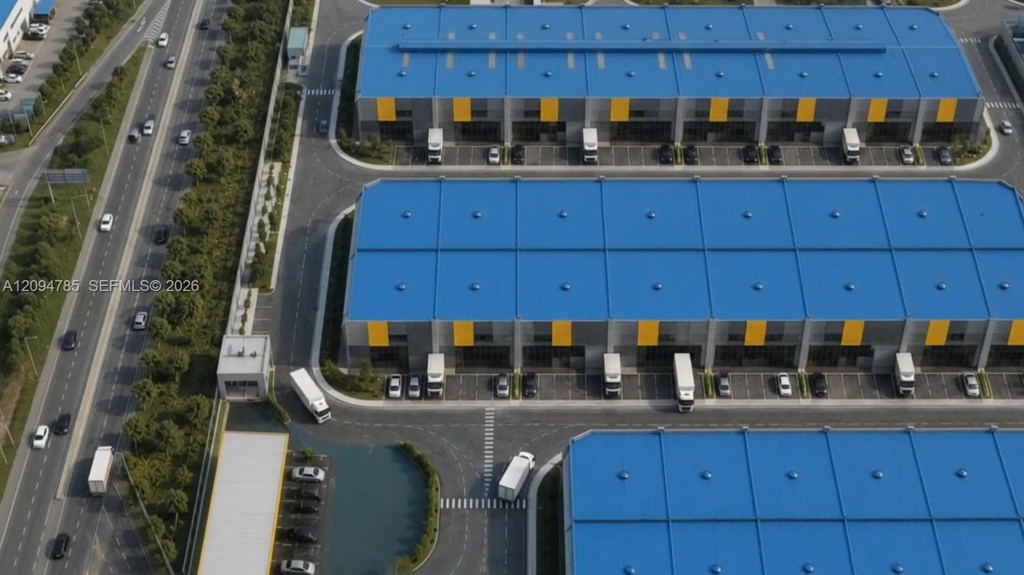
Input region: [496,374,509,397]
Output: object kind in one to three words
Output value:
vehicle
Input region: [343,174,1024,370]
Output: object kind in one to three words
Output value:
warehouse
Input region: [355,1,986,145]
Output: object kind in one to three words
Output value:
warehouse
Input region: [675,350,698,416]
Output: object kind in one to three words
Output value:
truck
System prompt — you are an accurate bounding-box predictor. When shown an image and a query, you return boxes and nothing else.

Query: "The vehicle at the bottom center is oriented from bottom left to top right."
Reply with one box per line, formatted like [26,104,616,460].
[496,449,539,506]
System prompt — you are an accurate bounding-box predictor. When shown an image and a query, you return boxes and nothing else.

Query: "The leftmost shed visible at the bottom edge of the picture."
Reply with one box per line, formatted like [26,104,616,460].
[199,432,290,575]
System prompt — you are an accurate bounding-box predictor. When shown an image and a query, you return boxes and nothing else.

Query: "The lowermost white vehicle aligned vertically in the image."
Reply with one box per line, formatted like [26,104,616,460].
[84,448,117,504]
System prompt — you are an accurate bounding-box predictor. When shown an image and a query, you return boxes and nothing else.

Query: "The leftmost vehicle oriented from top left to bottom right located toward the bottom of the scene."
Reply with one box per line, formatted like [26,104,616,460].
[290,365,338,430]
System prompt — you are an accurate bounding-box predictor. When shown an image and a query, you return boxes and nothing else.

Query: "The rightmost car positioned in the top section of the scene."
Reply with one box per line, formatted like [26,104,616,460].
[998,120,1015,136]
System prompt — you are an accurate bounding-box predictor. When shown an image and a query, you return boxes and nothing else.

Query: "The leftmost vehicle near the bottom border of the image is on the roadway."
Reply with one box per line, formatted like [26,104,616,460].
[50,535,69,562]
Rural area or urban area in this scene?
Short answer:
urban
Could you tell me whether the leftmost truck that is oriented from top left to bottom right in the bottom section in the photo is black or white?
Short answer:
white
